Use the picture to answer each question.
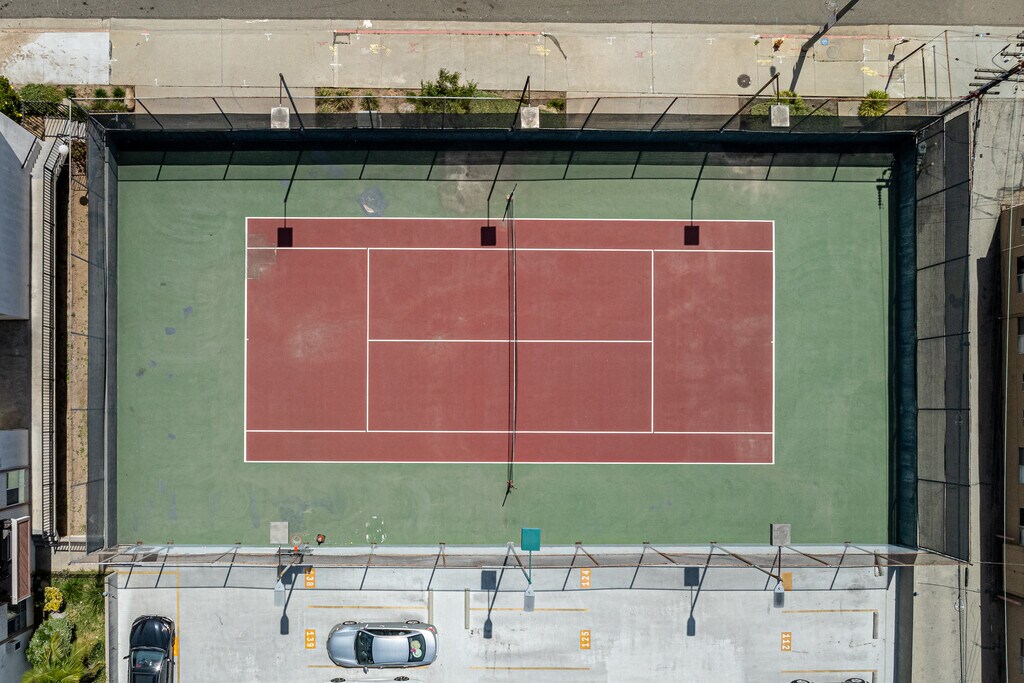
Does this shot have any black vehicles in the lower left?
Yes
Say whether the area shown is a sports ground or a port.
sports ground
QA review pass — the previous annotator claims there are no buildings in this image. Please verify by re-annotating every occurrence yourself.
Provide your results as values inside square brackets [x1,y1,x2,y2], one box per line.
[0,112,53,683]
[995,198,1024,683]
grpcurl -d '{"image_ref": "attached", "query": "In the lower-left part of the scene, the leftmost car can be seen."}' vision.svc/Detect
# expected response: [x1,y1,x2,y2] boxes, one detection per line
[122,615,175,683]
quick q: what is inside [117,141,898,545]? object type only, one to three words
tennis court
